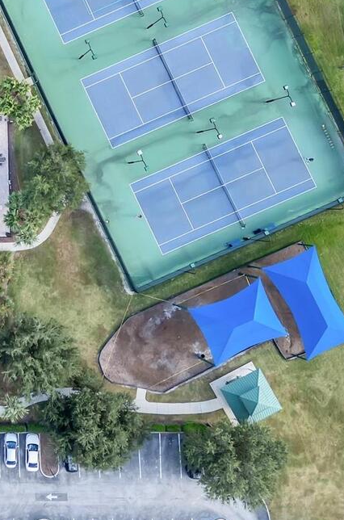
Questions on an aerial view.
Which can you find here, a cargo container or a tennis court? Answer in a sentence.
I can see a tennis court in this picture.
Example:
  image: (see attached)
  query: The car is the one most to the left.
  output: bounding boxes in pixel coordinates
[4,433,19,467]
